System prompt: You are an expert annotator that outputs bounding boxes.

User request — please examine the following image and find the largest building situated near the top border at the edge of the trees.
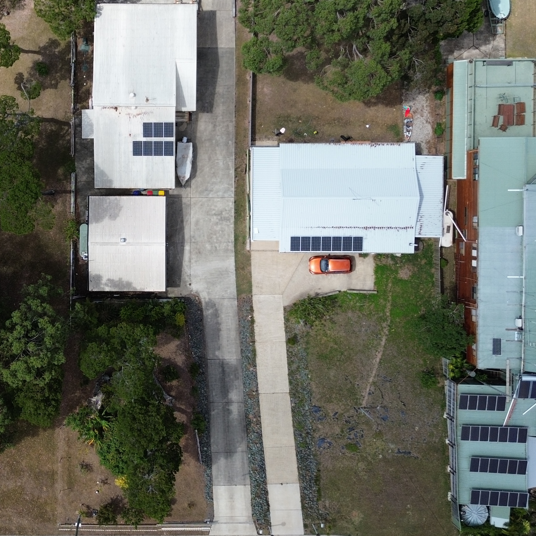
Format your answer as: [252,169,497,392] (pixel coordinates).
[81,2,197,190]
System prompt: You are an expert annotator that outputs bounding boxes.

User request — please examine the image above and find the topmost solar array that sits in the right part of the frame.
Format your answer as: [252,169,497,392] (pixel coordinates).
[290,236,363,252]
